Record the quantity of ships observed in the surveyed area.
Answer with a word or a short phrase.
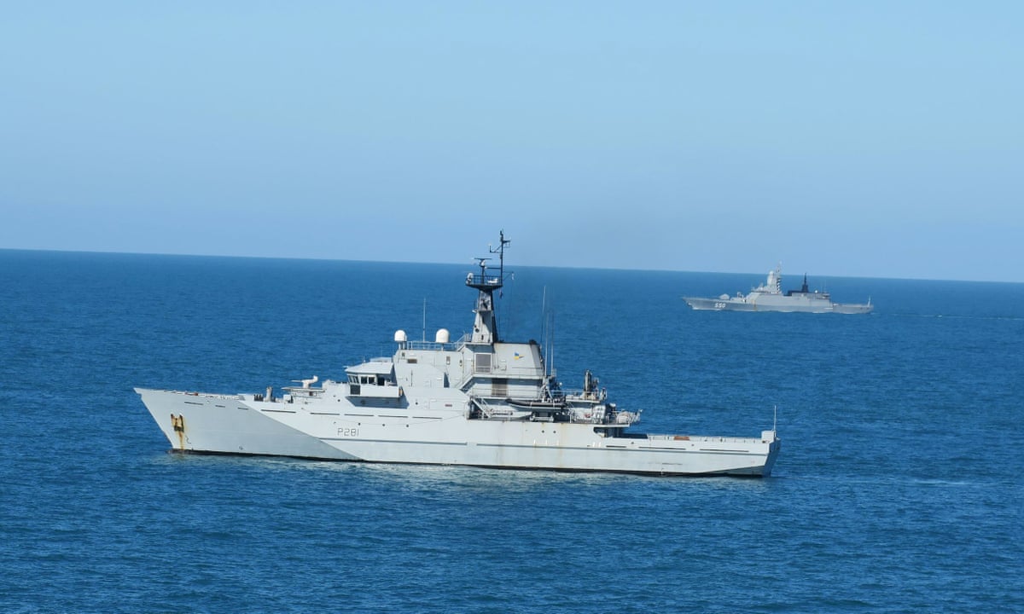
2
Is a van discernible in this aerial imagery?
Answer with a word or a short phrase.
No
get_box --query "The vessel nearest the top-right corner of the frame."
[684,262,873,314]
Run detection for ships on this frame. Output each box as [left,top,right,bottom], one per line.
[684,262,873,314]
[134,231,780,476]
